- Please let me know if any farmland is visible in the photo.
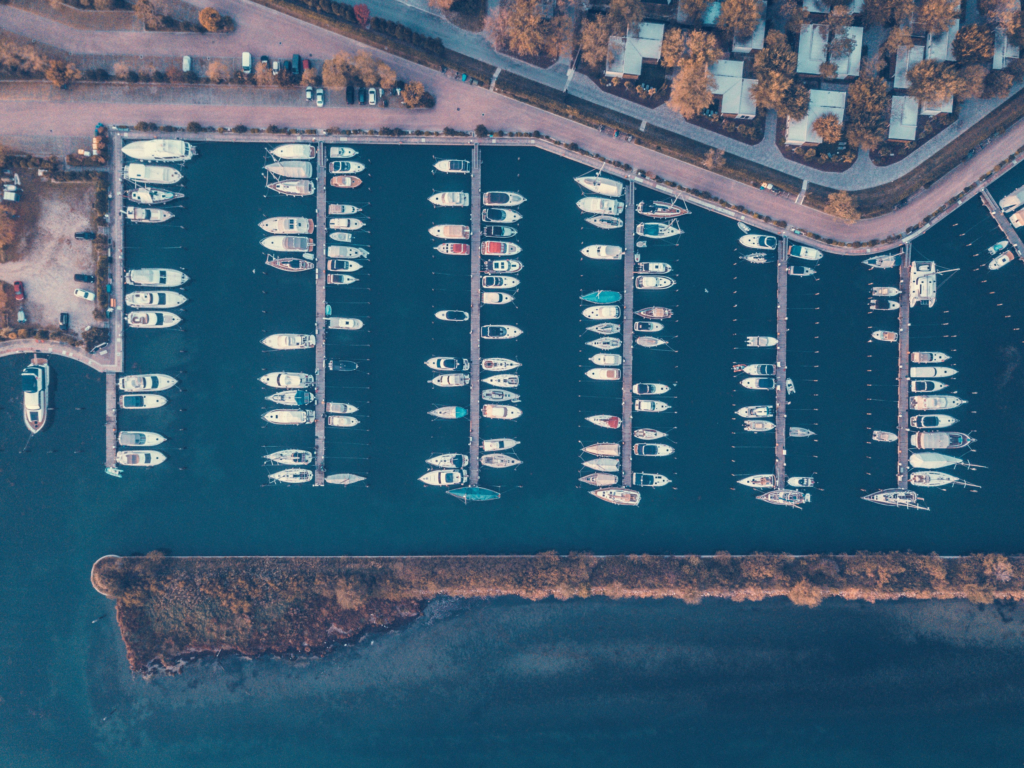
No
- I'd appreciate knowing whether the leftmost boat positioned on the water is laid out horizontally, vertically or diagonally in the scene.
vertically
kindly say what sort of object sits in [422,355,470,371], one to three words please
boat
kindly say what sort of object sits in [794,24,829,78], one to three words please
house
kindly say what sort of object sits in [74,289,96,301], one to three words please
vehicle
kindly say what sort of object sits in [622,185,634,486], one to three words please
pier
